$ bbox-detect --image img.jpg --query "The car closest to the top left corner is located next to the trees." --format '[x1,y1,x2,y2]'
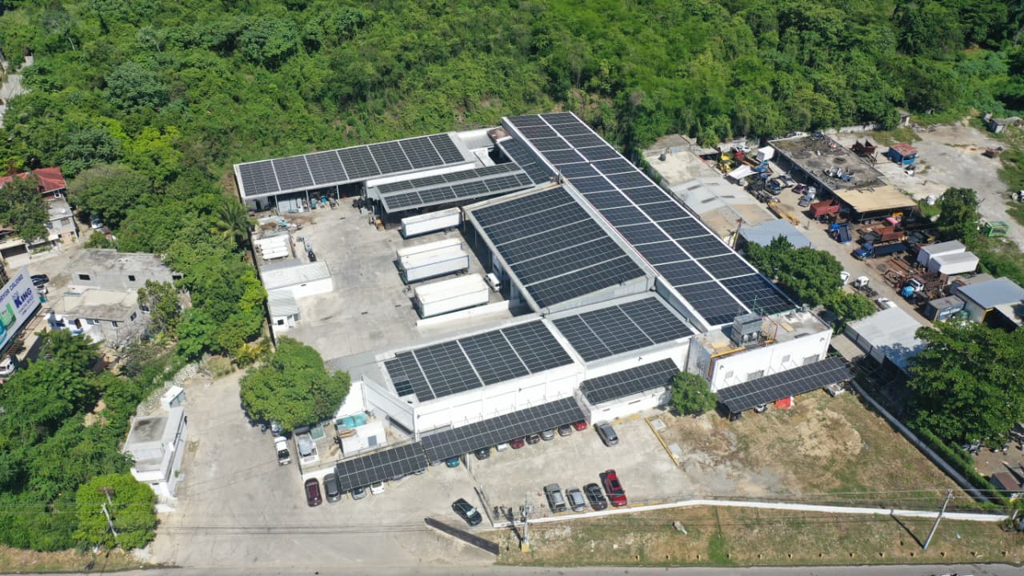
[88,211,103,229]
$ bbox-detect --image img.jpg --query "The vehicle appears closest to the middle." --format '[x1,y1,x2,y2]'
[484,271,505,291]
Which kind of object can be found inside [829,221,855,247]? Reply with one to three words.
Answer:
truck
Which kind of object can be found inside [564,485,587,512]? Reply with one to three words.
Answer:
car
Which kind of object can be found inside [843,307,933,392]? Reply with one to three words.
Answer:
shed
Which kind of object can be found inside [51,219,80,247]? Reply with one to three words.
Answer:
house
